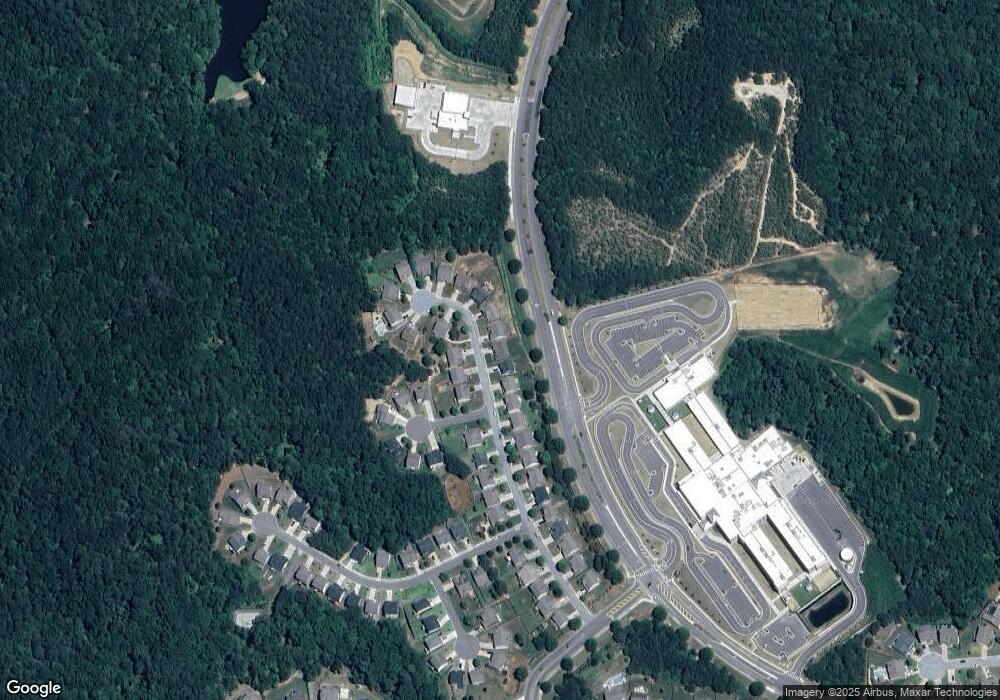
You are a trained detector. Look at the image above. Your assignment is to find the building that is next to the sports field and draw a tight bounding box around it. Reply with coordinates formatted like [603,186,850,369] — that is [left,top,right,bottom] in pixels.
[650,356,829,598]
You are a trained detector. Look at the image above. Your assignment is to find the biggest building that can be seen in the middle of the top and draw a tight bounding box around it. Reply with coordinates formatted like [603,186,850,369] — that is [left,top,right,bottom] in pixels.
[438,91,470,141]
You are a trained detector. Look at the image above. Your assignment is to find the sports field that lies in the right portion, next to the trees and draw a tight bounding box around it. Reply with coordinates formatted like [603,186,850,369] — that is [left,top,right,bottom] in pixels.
[735,283,823,330]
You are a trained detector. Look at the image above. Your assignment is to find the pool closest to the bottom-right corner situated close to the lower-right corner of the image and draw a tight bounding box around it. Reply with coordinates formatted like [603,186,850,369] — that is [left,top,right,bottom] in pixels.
[873,668,889,685]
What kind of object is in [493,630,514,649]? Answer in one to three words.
house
